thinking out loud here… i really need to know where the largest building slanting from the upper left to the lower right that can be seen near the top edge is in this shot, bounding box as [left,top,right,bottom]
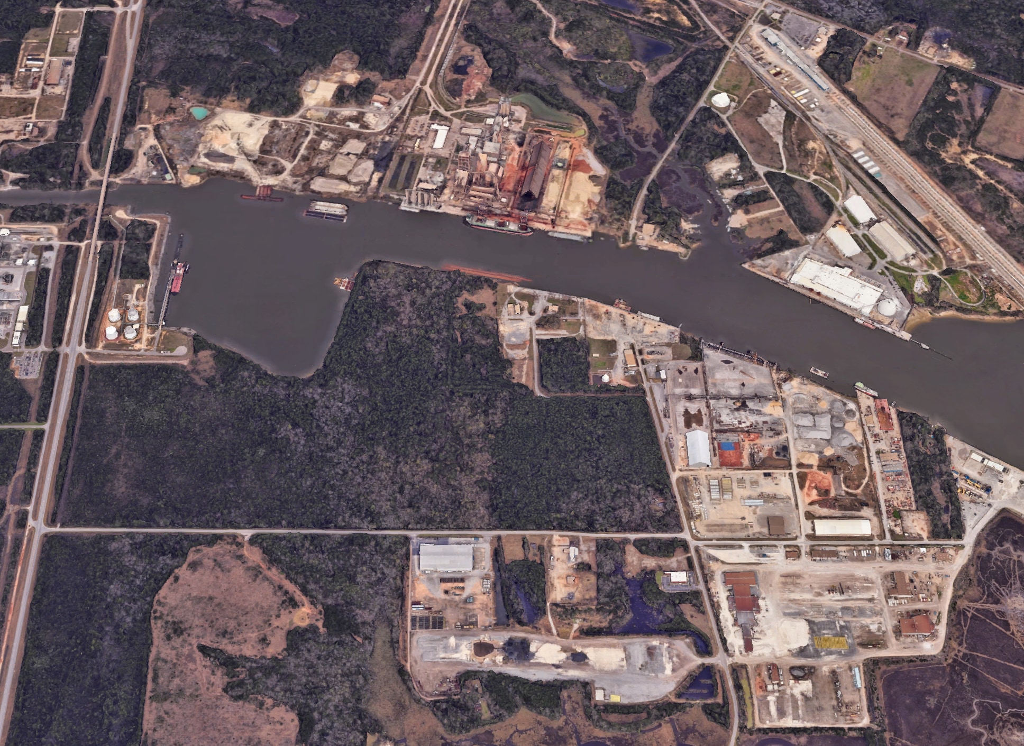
[760,28,829,92]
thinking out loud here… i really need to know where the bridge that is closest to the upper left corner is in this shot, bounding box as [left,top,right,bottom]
[88,131,113,260]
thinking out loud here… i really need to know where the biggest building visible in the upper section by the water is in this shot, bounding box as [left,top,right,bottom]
[789,259,883,314]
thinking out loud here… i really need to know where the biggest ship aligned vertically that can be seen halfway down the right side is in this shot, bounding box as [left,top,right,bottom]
[874,399,893,430]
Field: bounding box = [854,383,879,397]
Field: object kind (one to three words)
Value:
ship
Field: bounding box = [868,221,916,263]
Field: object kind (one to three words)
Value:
building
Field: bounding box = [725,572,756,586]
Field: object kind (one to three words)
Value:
building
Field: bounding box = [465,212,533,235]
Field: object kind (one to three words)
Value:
ship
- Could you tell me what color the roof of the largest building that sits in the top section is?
white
